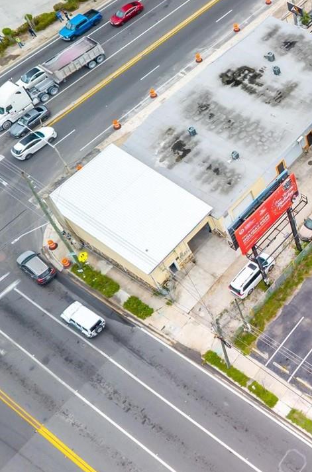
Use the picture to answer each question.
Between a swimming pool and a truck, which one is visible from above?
truck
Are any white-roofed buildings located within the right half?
Yes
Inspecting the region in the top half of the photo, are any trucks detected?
Yes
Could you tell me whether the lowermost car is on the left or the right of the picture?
left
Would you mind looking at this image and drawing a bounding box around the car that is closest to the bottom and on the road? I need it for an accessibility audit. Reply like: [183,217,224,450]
[53,294,105,335]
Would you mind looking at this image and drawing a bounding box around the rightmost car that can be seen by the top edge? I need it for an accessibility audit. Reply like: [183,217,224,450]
[111,0,146,19]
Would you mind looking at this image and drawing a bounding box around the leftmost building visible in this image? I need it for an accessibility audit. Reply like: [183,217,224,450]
[49,138,215,286]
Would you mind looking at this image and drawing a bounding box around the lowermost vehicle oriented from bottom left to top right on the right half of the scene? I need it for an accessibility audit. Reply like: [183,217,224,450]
[224,252,271,295]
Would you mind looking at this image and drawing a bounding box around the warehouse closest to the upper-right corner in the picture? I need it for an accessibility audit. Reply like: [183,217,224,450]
[120,13,312,231]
